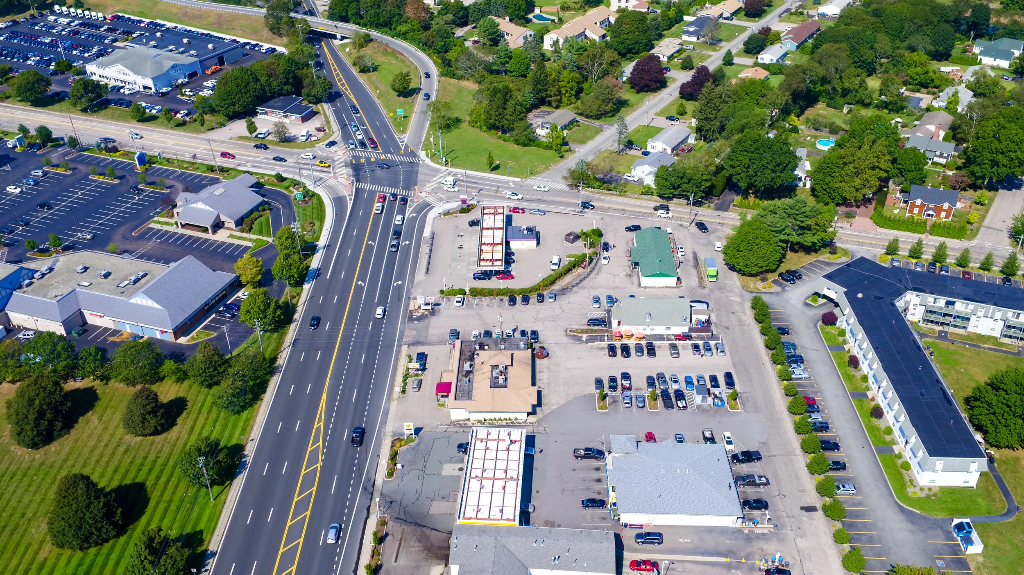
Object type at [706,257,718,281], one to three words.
vehicle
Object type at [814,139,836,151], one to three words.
swimming pool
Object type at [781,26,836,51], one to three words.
house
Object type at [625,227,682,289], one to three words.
building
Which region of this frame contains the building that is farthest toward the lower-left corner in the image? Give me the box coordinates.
[0,248,238,344]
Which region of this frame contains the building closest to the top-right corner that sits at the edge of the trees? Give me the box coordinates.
[973,41,1024,72]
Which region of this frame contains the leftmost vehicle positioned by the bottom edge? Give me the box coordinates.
[327,524,341,547]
